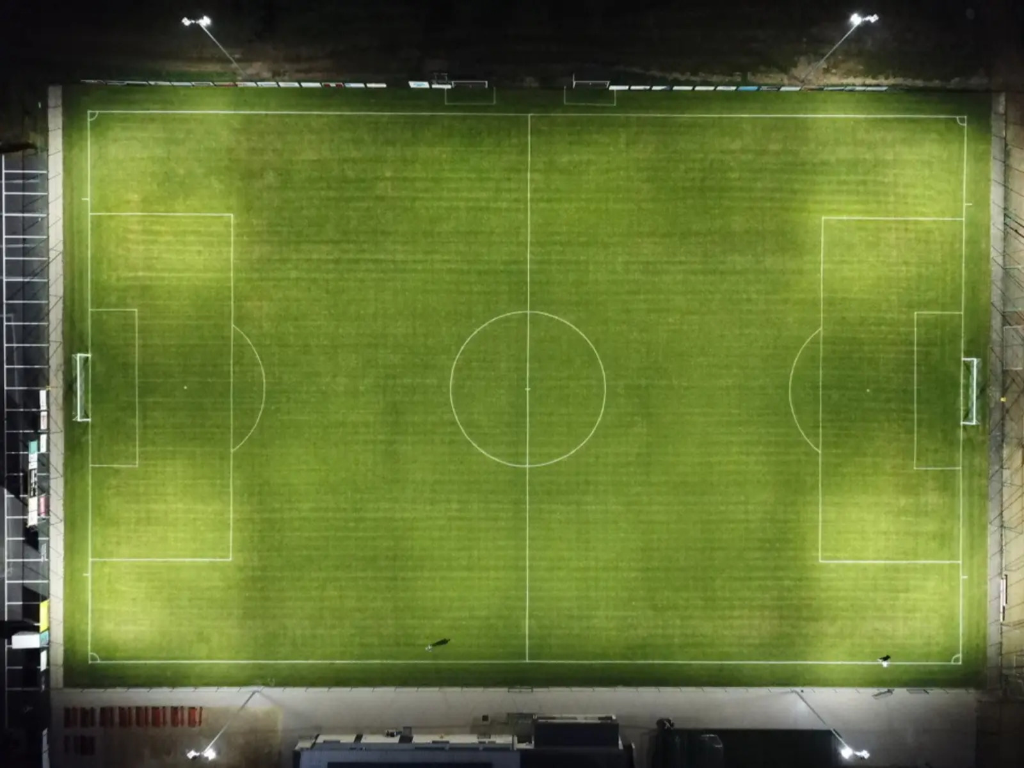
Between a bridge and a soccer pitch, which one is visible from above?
soccer pitch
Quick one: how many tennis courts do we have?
0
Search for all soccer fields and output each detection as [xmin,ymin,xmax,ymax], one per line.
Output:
[63,86,991,688]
